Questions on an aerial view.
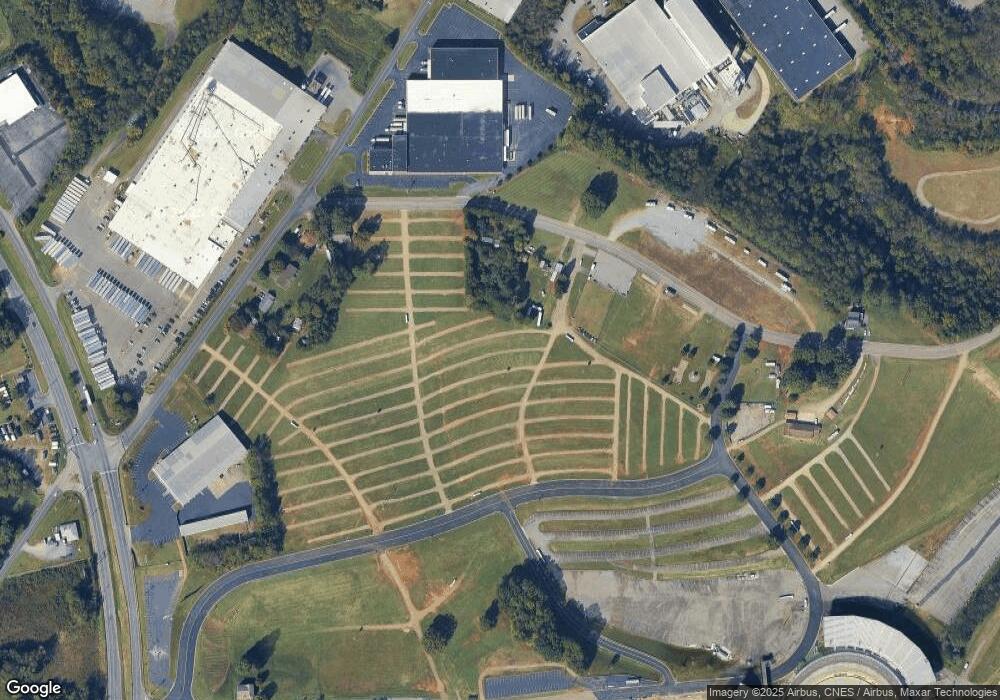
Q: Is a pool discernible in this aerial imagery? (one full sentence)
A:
No, I can see no pool in this picture.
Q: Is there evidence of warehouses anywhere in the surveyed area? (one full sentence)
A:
Yes, a warehouse appears in the view.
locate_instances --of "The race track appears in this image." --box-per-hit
[789,649,903,700]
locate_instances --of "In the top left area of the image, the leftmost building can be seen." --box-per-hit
[0,73,38,125]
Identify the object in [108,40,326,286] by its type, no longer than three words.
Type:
warehouse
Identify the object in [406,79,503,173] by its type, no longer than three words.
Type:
building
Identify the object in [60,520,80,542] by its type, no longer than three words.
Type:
house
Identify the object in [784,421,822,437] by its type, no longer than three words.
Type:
barn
